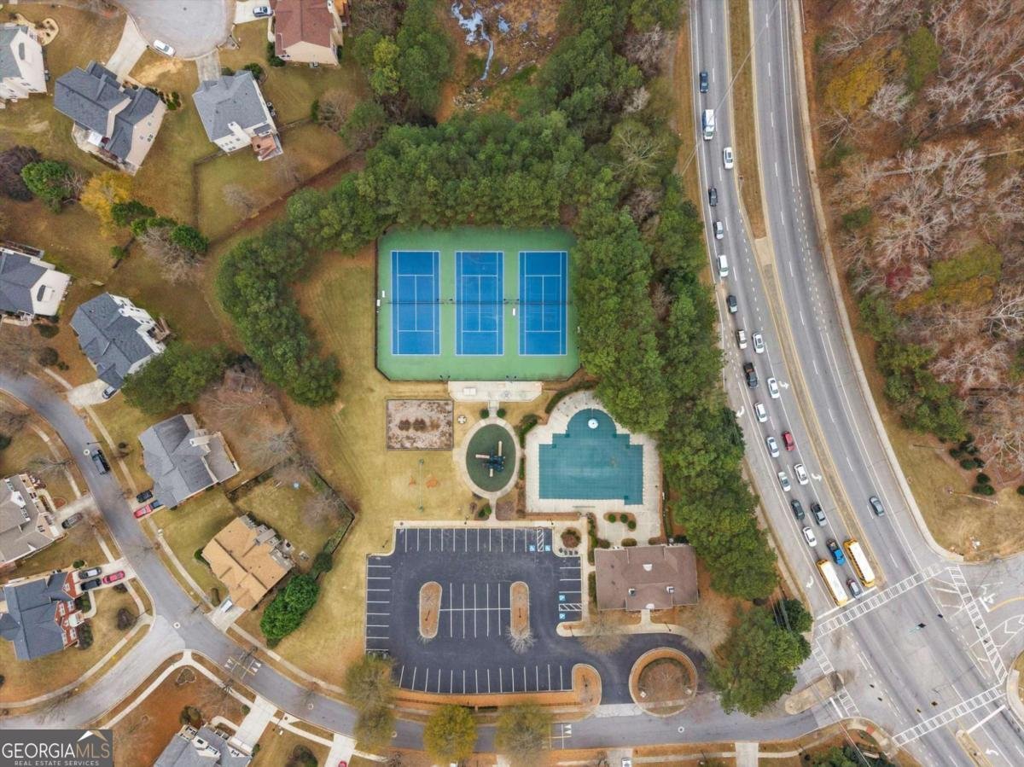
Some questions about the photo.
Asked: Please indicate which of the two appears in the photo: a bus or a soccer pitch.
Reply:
bus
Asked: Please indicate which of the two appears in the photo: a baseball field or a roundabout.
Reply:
roundabout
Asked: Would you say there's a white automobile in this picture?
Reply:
Yes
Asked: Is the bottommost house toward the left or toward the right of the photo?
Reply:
left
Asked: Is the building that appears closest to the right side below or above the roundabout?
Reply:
above it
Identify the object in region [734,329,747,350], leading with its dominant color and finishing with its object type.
white vehicle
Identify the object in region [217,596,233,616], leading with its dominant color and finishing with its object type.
white vehicle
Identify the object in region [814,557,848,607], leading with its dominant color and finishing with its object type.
white bus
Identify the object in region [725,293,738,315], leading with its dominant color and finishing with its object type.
gray vehicle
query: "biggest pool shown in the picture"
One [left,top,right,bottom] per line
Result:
[526,390,661,547]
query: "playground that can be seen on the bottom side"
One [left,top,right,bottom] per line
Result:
[453,416,526,520]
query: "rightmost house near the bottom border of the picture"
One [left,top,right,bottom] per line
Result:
[155,720,259,767]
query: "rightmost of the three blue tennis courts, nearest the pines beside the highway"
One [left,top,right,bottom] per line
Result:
[515,251,572,355]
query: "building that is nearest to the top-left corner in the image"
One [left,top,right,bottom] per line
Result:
[0,24,45,95]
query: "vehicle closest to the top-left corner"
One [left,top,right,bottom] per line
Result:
[153,38,176,57]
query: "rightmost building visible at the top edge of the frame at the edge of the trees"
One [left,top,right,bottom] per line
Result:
[265,0,351,63]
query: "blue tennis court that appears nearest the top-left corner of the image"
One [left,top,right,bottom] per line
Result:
[387,251,443,355]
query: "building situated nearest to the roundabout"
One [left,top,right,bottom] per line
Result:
[594,544,697,611]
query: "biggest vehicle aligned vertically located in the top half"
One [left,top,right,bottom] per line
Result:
[702,107,716,142]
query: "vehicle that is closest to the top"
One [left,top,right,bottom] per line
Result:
[245,3,273,17]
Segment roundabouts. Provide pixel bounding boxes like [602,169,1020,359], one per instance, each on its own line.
[628,647,698,717]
